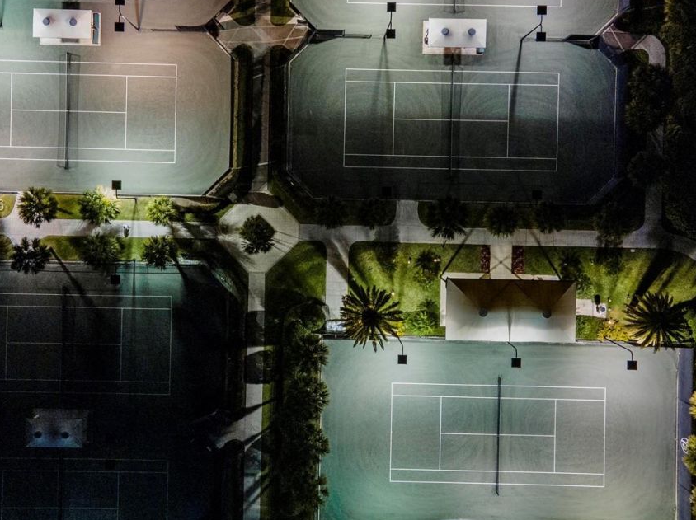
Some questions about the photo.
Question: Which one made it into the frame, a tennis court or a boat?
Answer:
tennis court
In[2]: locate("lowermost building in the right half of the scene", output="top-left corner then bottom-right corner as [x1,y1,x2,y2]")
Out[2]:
[439,272,576,341]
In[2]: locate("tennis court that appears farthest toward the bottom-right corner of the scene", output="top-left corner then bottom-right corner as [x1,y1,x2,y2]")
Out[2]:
[319,339,680,520]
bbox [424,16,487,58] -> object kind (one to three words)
shed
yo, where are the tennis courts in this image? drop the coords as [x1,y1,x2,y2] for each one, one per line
[0,421,225,520]
[0,258,229,429]
[0,26,232,197]
[319,339,680,520]
[290,0,619,35]
[287,32,618,204]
